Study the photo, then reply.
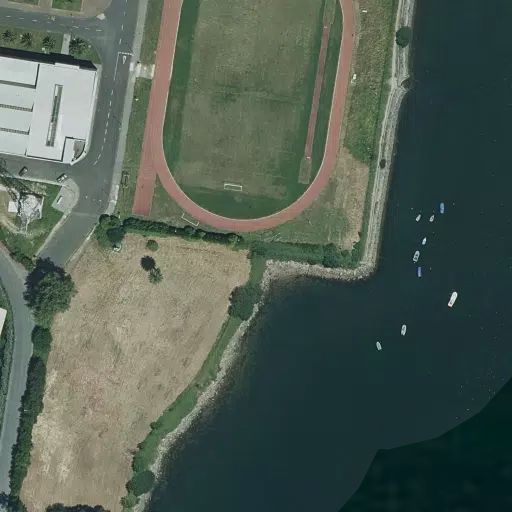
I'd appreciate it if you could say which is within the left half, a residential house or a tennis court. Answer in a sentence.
What appears within the left half is a residential house.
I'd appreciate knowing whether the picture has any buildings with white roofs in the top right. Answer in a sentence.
No, no building with a white roof can be made out in the top right.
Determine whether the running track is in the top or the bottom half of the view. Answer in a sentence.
Seen from above, the running track lies in the top half of the view.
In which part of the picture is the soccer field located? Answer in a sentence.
The soccer field appears toward the top of the photo.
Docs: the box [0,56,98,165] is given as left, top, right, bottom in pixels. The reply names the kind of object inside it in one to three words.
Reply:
building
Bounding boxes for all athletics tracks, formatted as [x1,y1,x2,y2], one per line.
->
[132,0,353,232]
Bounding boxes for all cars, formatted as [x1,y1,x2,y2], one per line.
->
[57,174,67,182]
[20,166,28,176]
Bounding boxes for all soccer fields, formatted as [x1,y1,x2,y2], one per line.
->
[162,0,342,219]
